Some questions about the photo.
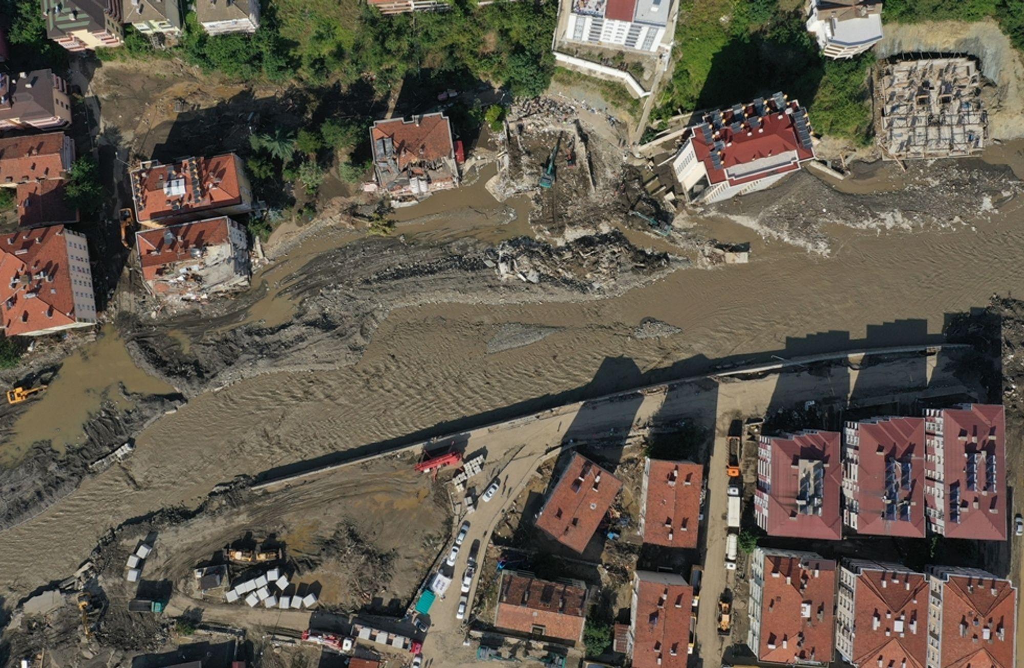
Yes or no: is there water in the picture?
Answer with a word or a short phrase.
Yes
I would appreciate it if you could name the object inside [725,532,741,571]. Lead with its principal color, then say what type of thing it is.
white vehicle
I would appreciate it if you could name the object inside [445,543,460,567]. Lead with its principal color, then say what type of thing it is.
white car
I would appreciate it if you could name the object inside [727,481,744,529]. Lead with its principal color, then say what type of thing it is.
white vehicle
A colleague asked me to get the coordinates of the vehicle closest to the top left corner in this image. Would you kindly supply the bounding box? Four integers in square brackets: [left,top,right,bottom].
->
[117,205,133,252]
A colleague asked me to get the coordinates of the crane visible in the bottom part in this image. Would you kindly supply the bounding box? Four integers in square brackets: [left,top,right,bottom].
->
[414,440,464,485]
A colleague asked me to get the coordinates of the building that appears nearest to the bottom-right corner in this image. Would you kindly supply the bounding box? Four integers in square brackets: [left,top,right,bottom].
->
[923,564,1018,668]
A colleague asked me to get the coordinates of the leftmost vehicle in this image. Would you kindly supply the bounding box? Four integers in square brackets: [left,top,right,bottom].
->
[4,384,52,404]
